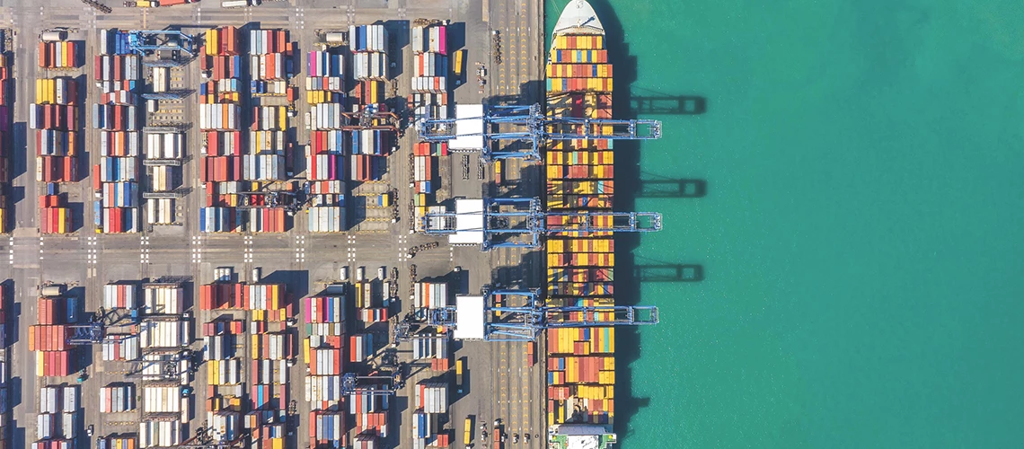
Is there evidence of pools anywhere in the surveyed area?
No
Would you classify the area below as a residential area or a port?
port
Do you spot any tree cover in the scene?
No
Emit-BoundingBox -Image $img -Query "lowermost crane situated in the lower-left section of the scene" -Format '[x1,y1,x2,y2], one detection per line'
[173,424,243,449]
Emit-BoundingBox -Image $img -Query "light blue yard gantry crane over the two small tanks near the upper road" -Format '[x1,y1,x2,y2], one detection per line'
[125,29,192,58]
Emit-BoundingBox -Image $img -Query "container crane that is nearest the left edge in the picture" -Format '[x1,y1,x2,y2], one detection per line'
[66,319,140,347]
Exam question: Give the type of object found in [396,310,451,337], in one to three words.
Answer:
container crane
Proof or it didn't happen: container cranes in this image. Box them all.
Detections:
[236,188,298,212]
[419,193,661,253]
[341,109,399,136]
[396,310,451,337]
[173,424,243,449]
[66,319,140,347]
[340,369,400,397]
[419,100,661,167]
[419,277,661,340]
[123,353,190,381]
[125,29,192,58]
